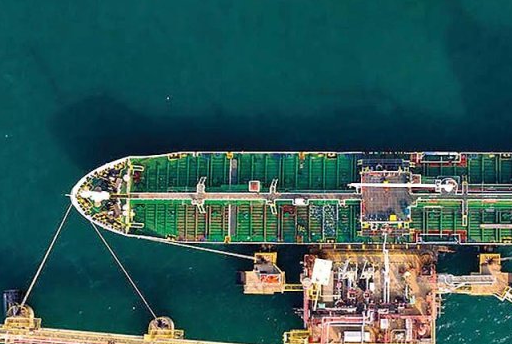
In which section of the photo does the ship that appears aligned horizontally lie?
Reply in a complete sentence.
The ship that appears aligned horizontally appears toward the center of the photo.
